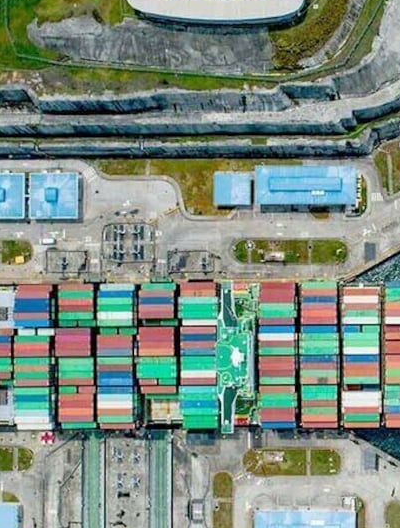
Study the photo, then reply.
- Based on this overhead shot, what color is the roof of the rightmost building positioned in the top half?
blue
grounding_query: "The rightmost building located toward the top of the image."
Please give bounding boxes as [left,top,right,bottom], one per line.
[255,166,357,212]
